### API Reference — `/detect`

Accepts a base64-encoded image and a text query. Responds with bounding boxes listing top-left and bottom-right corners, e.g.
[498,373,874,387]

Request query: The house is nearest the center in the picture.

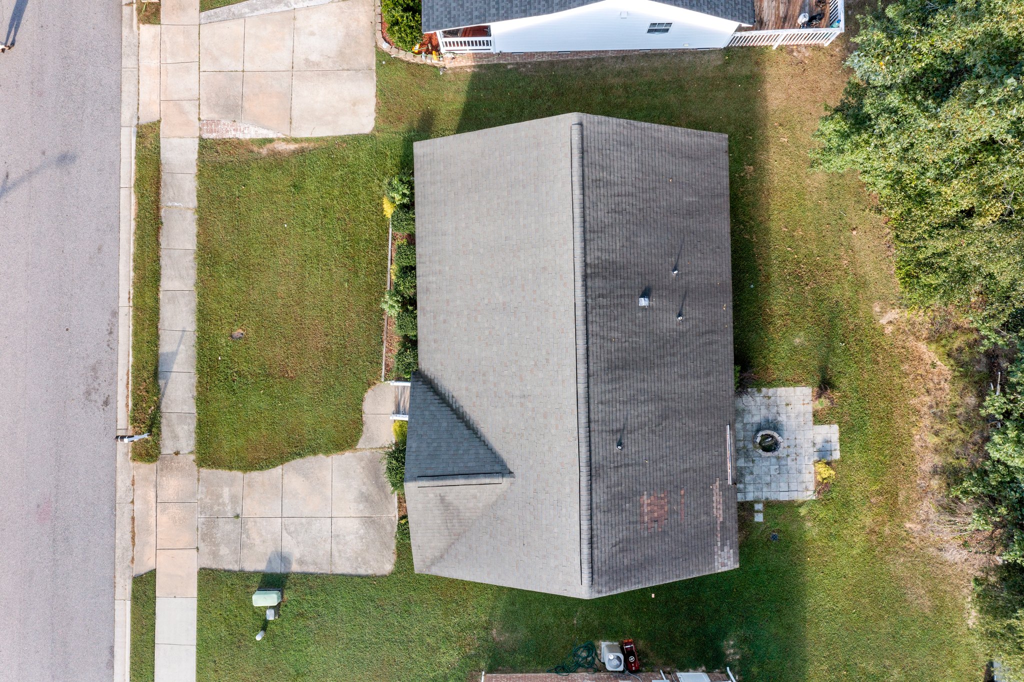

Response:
[405,112,739,600]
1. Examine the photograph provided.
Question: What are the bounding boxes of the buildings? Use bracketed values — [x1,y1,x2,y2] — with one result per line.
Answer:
[484,664,737,682]
[405,112,739,600]
[422,0,755,67]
